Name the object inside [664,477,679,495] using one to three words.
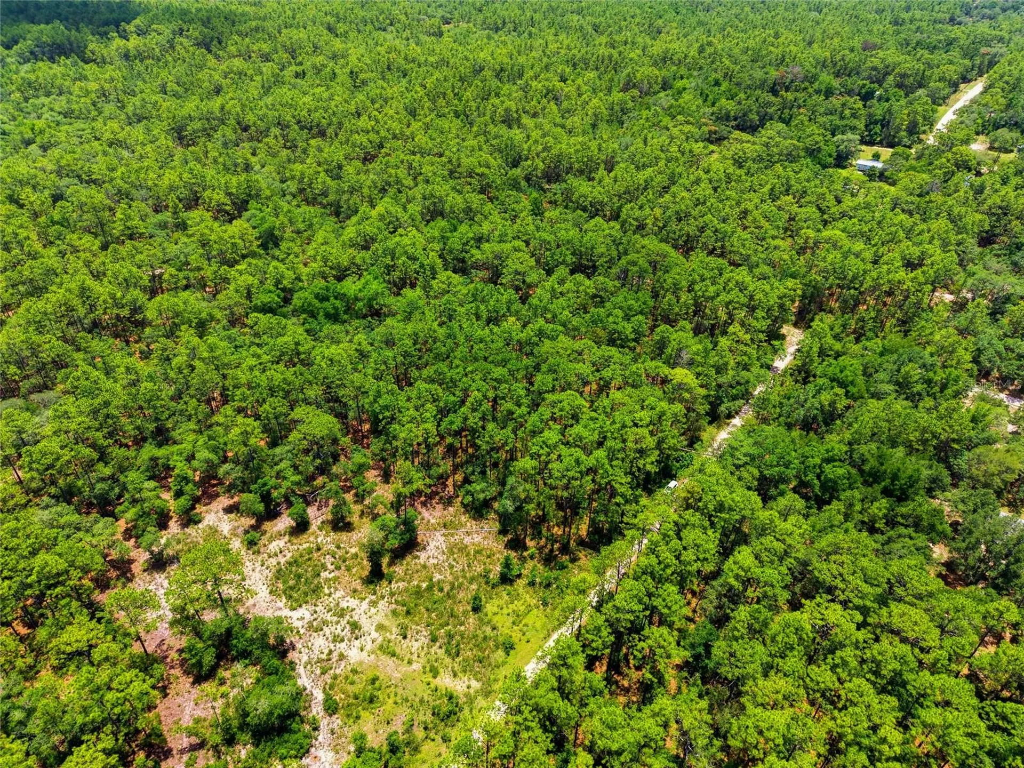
car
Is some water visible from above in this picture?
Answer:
No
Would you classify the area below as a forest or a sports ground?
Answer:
forest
